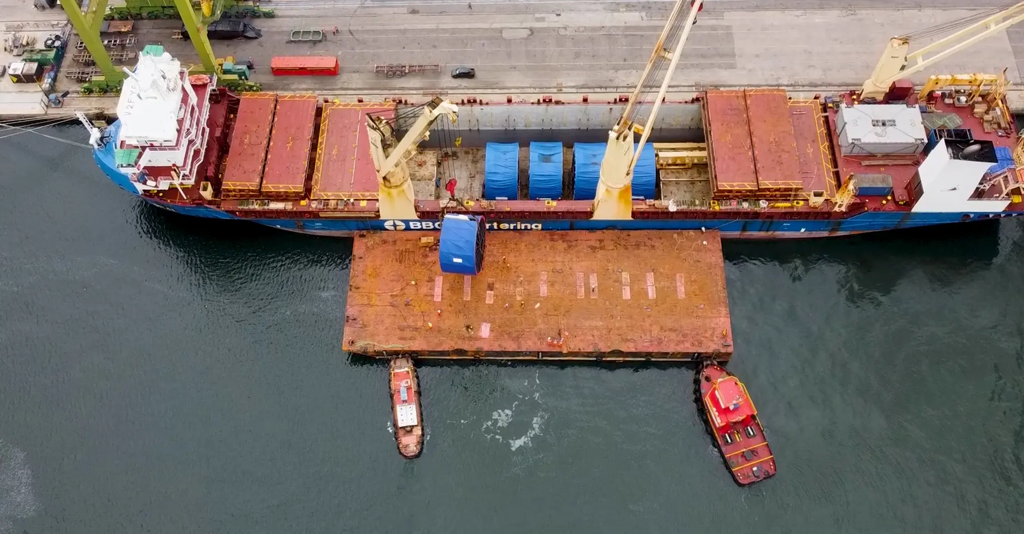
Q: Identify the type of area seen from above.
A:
port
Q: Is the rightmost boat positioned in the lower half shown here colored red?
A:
Yes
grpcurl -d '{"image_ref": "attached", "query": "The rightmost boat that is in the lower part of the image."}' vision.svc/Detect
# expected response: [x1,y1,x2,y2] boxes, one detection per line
[692,355,781,488]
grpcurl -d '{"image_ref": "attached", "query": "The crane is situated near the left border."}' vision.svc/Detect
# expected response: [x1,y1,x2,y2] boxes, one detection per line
[51,0,288,93]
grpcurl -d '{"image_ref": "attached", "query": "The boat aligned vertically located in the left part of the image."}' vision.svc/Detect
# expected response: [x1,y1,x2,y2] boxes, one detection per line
[390,356,424,462]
